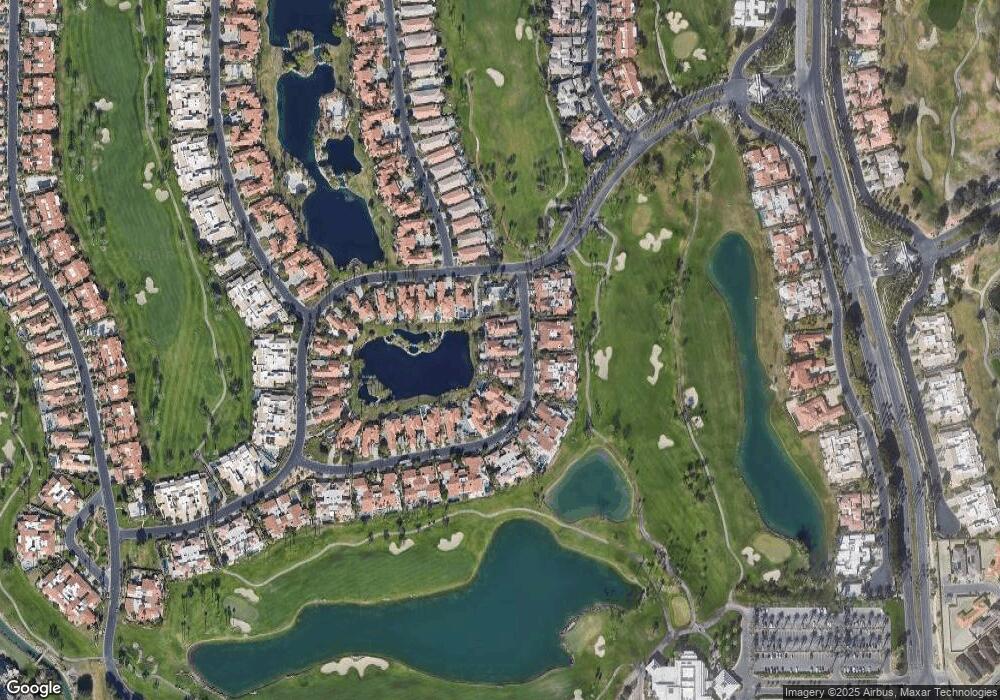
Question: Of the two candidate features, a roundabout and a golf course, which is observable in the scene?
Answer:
golf course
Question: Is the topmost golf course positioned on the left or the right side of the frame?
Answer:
right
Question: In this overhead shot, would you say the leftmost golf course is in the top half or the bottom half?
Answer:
bottom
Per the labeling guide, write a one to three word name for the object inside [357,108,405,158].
house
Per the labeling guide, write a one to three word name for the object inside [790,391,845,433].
house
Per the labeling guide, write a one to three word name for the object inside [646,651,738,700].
building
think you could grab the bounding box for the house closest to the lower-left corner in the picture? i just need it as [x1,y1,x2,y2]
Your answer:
[39,562,100,626]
